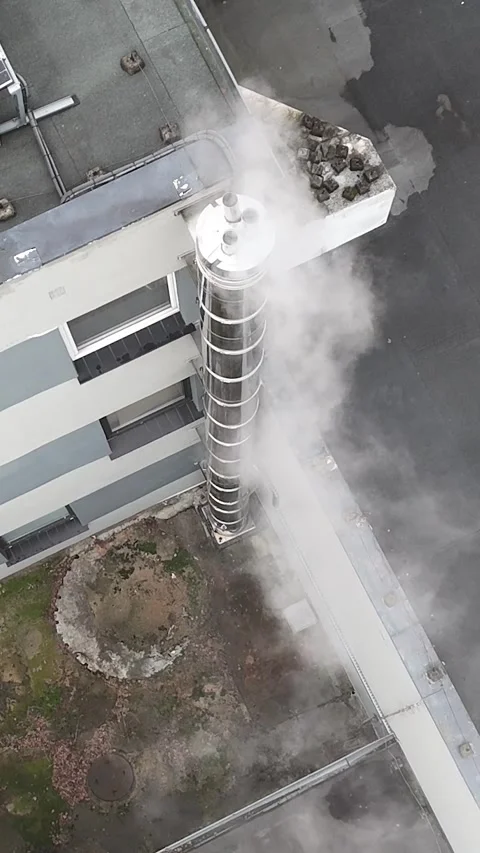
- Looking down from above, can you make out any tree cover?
No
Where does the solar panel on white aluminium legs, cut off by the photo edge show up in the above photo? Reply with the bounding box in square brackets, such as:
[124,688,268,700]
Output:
[0,42,36,117]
